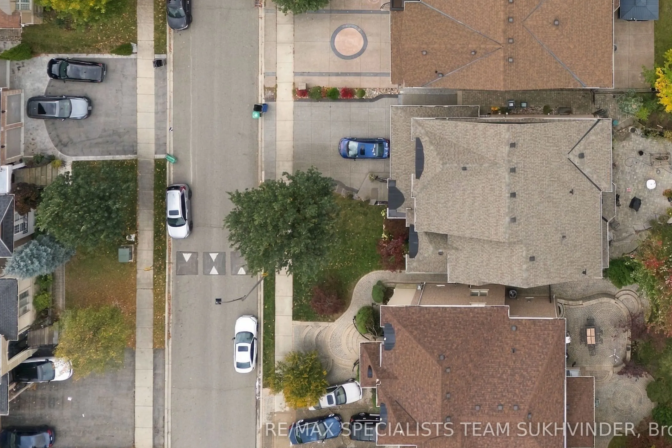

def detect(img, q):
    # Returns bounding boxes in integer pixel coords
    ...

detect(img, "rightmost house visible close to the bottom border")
[359,281,596,448]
